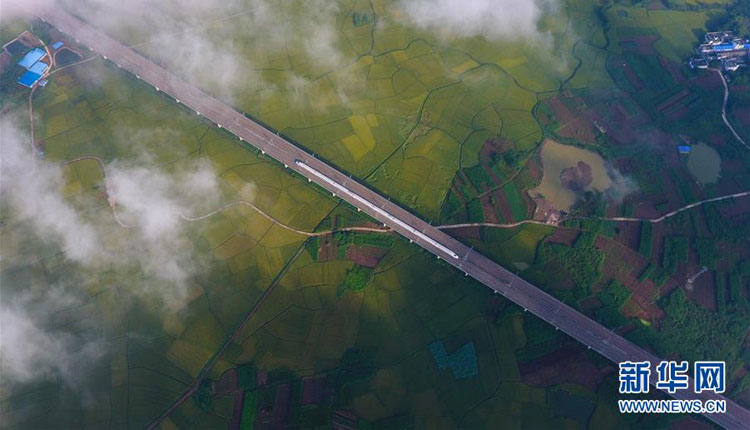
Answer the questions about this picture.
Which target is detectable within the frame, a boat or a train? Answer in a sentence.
The image shows a train.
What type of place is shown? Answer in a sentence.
This image shows farmland.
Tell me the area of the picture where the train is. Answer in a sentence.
Look in the center portion of the view to spot the train.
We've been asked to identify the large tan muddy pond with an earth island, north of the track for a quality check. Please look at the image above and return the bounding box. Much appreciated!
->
[532,141,609,210]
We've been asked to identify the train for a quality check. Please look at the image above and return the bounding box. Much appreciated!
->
[297,161,460,259]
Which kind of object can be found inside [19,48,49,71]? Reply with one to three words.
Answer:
shed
